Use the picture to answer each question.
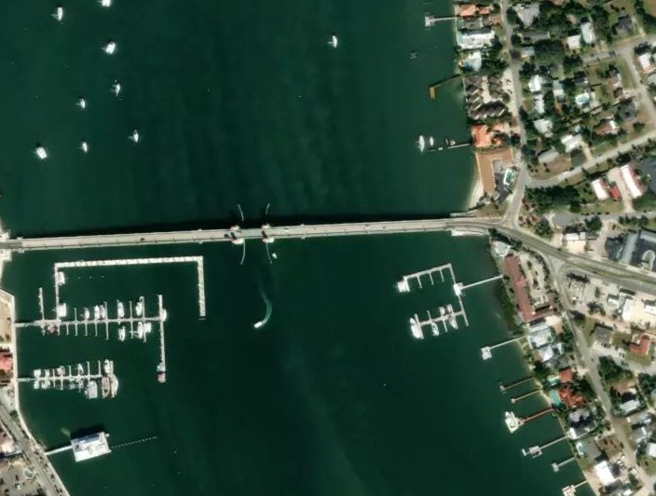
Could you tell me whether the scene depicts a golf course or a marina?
marina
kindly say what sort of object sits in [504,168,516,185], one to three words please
swimming pool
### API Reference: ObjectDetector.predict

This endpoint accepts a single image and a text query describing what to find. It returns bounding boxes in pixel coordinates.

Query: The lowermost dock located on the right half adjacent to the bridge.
[404,263,503,339]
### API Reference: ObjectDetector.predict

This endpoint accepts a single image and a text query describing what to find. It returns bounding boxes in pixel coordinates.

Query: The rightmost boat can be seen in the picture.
[504,412,520,434]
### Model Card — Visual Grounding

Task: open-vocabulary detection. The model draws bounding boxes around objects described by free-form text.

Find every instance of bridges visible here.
[0,219,479,251]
